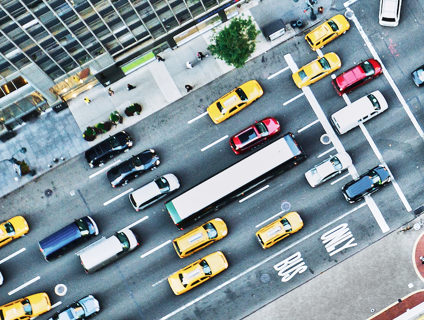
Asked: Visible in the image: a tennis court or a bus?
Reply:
bus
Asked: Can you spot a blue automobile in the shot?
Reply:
Yes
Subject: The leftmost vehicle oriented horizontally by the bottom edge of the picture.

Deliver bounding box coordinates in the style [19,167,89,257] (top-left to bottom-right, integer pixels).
[0,293,53,320]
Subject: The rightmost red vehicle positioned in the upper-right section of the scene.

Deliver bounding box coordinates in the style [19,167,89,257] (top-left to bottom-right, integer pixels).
[332,59,382,98]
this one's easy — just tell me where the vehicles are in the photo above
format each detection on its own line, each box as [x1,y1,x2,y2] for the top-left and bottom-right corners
[129,174,181,214]
[75,229,140,273]
[257,215,305,252]
[85,131,134,169]
[379,0,400,27]
[230,115,281,155]
[0,216,30,249]
[290,50,342,90]
[107,149,160,189]
[38,217,100,263]
[0,293,53,320]
[342,165,392,204]
[169,252,229,296]
[304,15,353,55]
[332,59,382,98]
[331,90,390,133]
[174,131,306,226]
[207,82,263,125]
[47,295,101,320]
[304,152,353,189]
[173,219,229,260]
